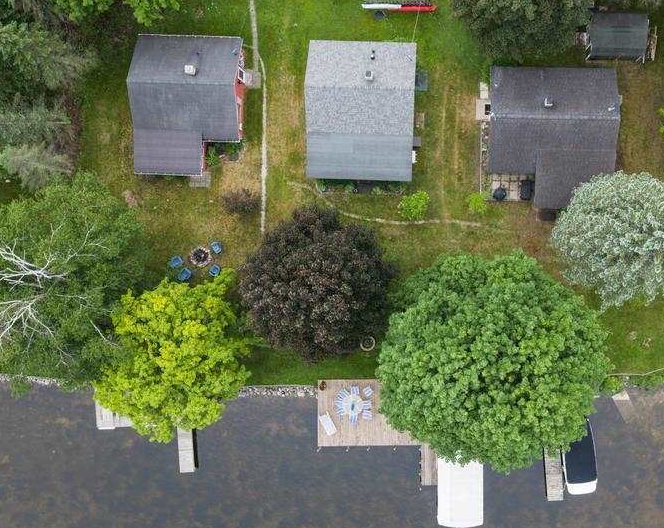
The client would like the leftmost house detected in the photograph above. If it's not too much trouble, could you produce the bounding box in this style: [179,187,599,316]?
[128,33,248,177]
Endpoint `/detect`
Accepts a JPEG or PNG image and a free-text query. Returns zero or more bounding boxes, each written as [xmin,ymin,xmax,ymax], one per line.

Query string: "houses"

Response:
[490,64,623,211]
[304,39,418,183]
[128,33,248,177]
